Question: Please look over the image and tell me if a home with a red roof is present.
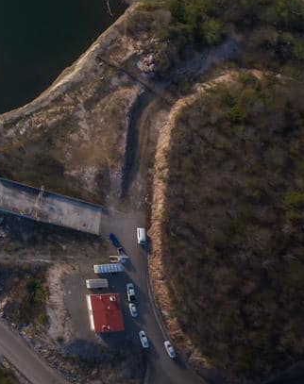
Yes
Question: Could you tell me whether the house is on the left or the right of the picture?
left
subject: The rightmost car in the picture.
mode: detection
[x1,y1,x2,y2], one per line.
[163,340,176,359]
